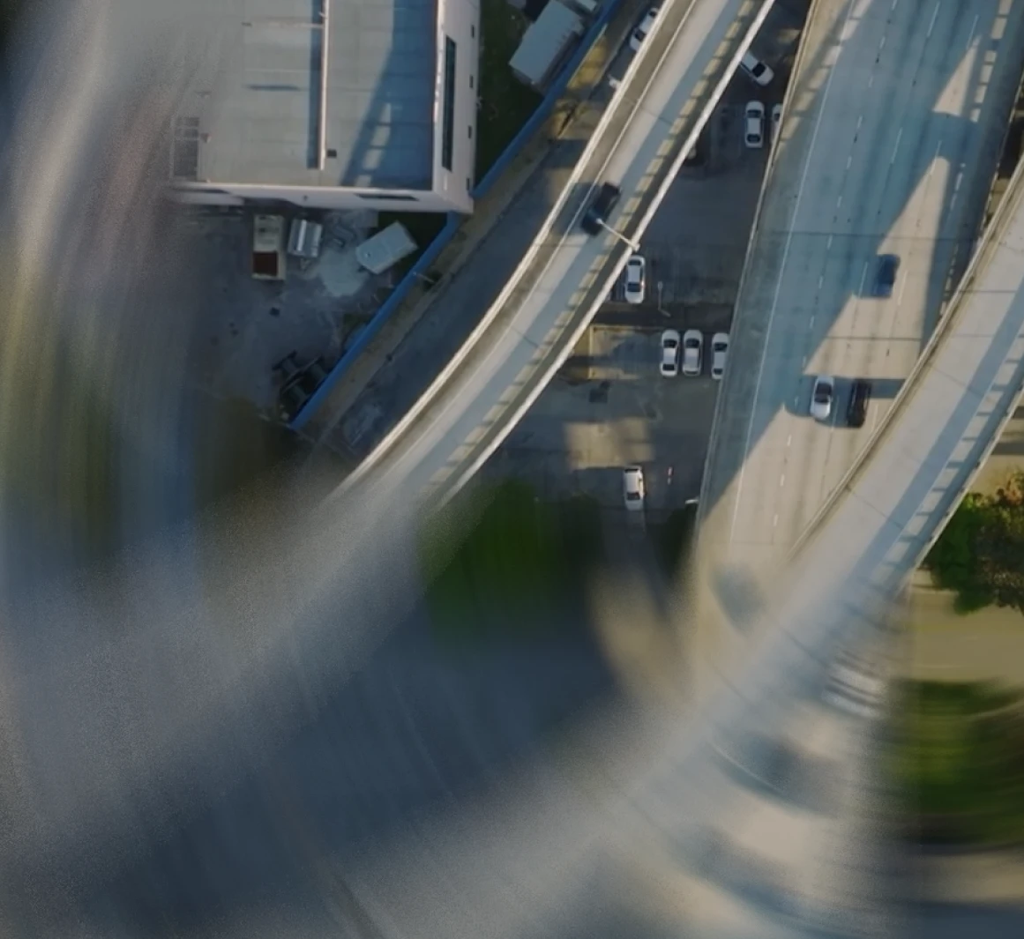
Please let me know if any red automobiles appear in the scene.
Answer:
No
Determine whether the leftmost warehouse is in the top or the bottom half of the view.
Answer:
top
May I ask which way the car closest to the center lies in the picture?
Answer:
vertically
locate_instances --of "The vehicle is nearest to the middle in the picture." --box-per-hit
[623,465,644,510]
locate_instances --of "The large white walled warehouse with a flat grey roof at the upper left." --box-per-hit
[109,0,477,212]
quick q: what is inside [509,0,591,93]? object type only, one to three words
shed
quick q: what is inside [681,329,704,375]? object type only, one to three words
car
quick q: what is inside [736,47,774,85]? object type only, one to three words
car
